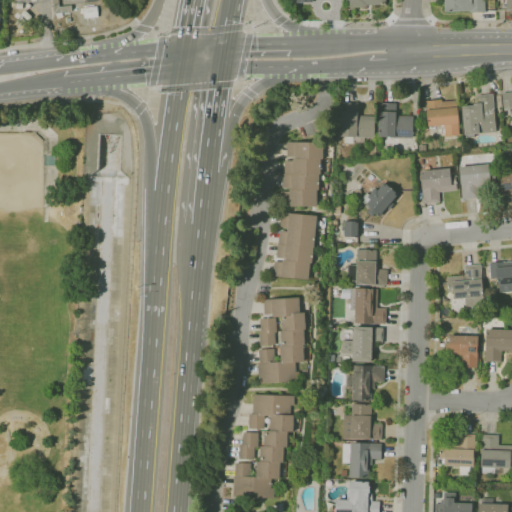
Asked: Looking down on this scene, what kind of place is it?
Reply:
residential area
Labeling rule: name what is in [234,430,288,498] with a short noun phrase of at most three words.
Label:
building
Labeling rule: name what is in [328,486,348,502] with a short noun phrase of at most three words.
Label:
swimming pool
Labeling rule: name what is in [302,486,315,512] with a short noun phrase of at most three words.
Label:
swimming pool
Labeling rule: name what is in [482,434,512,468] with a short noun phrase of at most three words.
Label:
house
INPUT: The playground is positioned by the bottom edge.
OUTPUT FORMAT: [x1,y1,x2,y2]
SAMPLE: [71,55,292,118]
[0,410,48,492]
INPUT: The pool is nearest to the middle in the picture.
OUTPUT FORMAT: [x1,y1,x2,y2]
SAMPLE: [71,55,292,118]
[338,250,354,268]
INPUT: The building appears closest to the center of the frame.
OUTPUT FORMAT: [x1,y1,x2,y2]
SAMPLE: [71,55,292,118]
[276,214,316,279]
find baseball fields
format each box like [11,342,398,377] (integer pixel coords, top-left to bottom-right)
[0,128,58,222]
